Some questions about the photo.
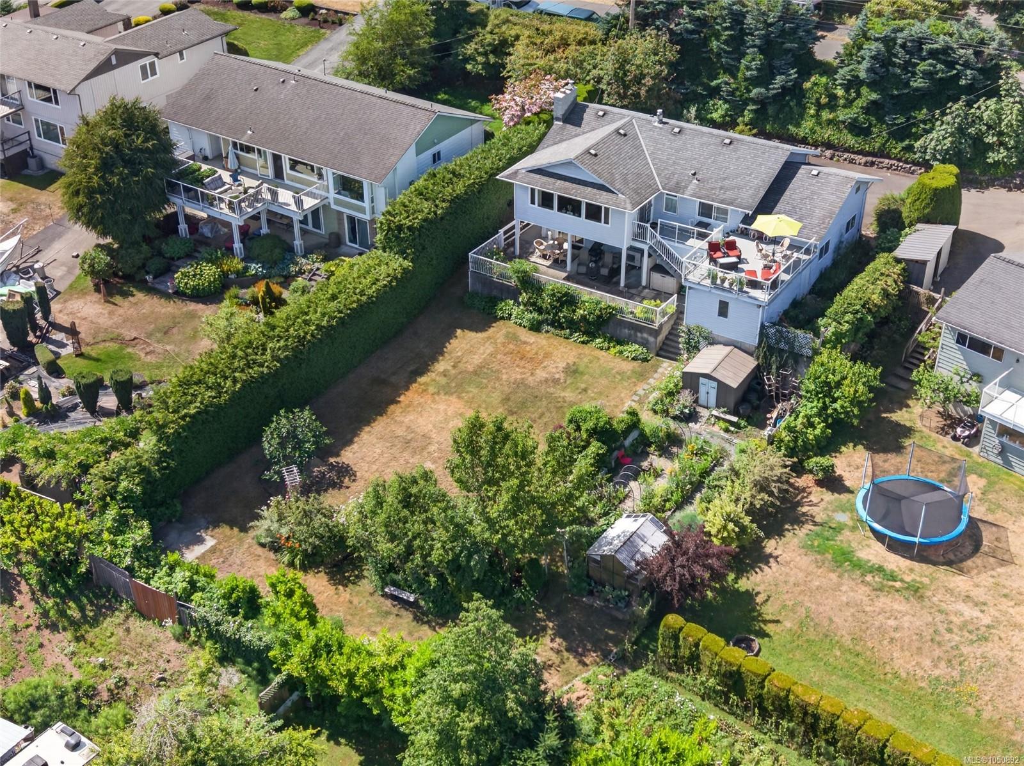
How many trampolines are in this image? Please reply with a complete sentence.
Altogether the scene contains 1 trampoline.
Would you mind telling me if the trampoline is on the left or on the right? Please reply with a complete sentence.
The trampoline is on the right side of the image.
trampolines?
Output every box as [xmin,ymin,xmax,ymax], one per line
[848,441,979,564]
